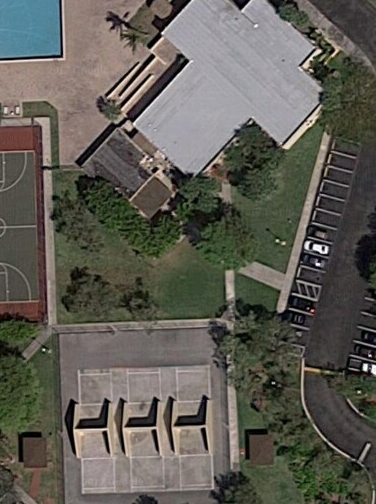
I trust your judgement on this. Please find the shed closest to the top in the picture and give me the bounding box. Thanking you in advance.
[151,0,173,18]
